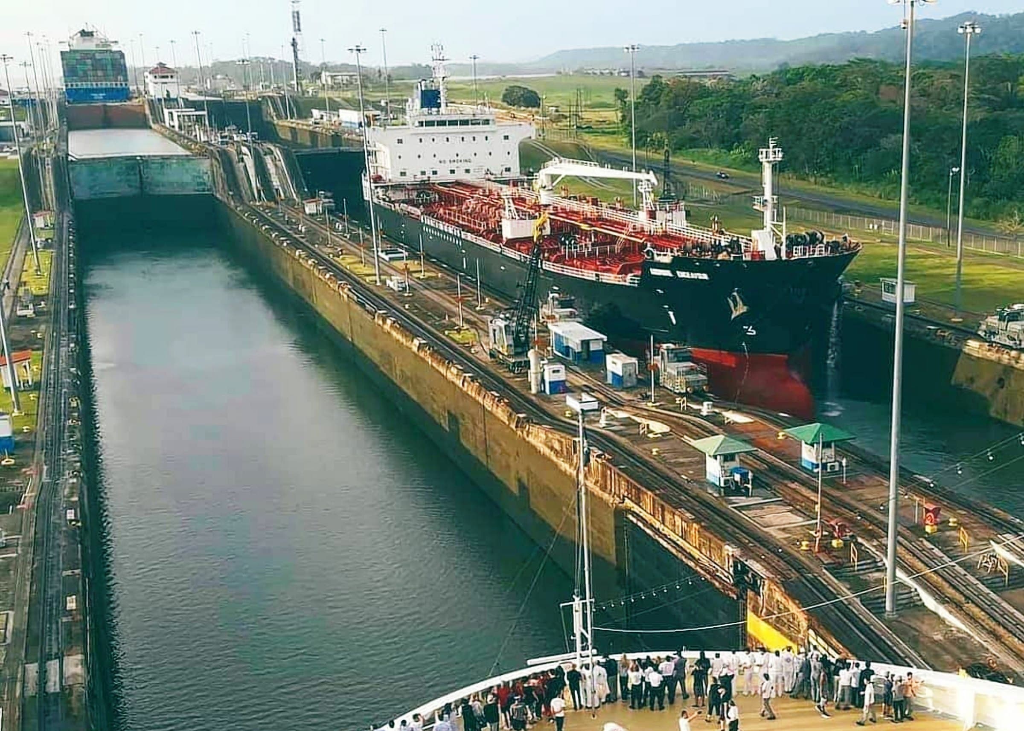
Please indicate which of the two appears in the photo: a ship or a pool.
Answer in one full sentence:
Visible in the photo is a ship.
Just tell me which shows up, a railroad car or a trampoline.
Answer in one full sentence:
Visible in the photo is a railroad car.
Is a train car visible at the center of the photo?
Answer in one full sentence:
Yes, a train car appears at the center of the photo.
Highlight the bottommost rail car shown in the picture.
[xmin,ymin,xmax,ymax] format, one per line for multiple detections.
[648,349,714,392]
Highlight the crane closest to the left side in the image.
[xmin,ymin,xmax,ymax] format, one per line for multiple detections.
[500,215,552,366]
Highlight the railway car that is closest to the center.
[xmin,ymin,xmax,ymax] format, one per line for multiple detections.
[535,292,576,320]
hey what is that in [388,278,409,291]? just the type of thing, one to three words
vehicle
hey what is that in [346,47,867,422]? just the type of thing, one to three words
ship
